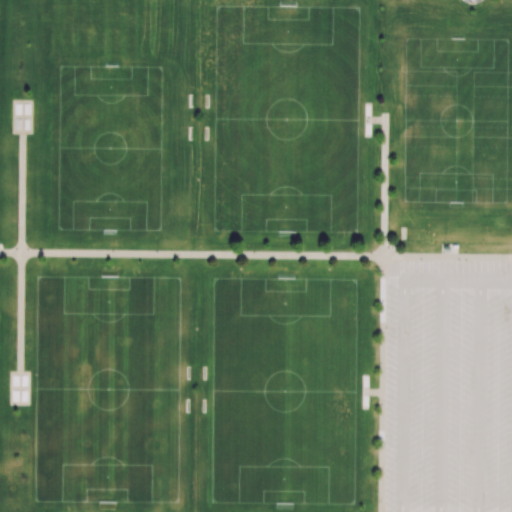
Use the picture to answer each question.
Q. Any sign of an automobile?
No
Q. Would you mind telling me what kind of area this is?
sports ground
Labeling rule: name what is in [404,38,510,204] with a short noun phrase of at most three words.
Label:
soccer field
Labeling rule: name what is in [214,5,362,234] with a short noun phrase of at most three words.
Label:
soccer field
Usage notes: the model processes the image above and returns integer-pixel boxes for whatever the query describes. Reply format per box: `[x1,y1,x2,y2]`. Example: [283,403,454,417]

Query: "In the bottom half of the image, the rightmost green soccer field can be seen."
[212,277,358,506]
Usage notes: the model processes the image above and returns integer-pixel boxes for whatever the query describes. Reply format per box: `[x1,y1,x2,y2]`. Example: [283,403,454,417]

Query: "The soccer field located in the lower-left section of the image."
[35,276,182,504]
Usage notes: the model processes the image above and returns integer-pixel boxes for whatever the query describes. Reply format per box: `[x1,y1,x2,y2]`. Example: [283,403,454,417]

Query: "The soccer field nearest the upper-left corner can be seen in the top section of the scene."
[58,65,163,232]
